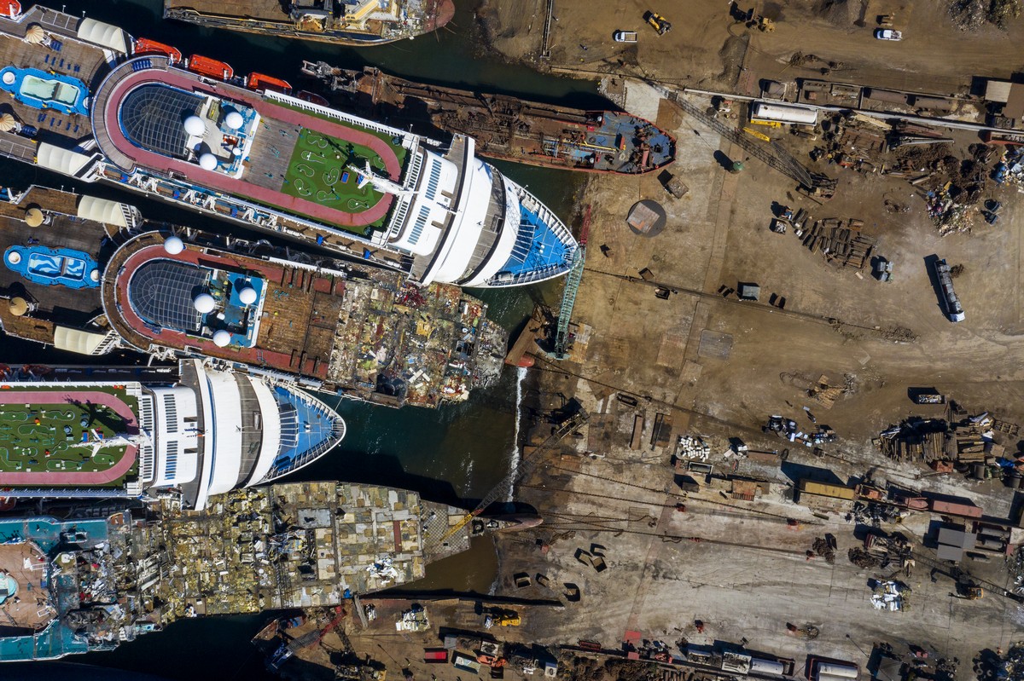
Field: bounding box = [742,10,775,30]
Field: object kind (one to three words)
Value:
work vehicle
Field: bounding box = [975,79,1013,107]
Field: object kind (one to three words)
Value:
shed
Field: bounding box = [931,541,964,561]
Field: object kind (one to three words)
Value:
shed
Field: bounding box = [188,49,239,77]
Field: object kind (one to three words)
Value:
boat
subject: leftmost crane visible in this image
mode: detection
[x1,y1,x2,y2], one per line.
[258,608,350,677]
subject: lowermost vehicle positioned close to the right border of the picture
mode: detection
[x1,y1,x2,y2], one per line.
[931,582,990,596]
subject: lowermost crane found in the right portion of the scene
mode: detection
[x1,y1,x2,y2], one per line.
[912,551,1024,612]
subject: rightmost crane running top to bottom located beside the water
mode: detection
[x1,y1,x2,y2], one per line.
[547,206,590,364]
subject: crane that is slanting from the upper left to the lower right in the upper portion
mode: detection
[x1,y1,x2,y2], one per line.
[743,126,837,200]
